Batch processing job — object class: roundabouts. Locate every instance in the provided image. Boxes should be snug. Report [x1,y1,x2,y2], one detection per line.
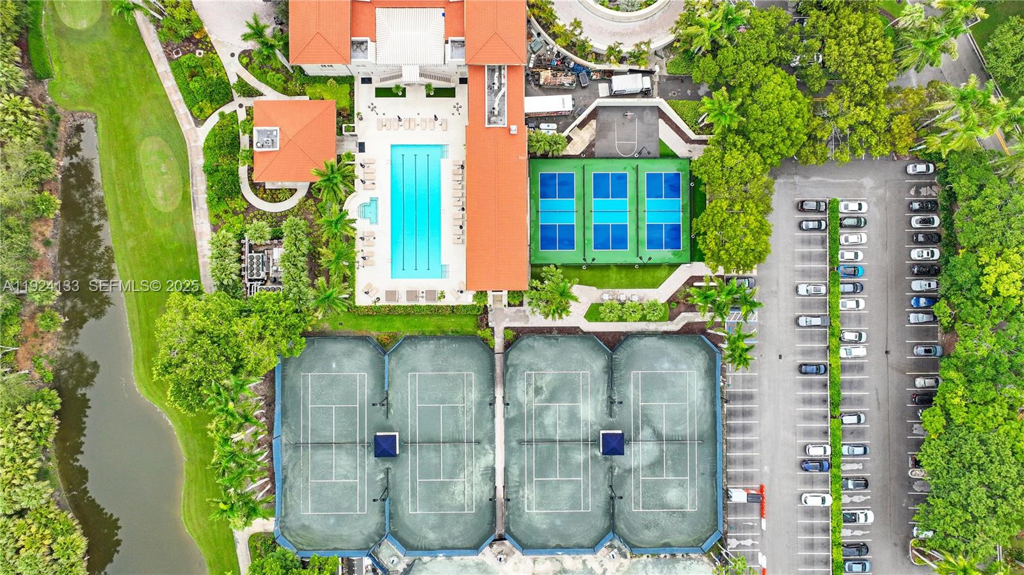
[541,0,710,54]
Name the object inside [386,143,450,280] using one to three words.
swimming pool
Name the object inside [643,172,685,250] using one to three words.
sports court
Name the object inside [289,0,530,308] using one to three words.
building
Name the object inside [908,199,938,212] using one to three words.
vehicle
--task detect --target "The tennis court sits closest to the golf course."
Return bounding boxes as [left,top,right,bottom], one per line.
[280,338,388,552]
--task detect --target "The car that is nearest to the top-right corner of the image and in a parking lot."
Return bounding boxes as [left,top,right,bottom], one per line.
[905,162,934,175]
